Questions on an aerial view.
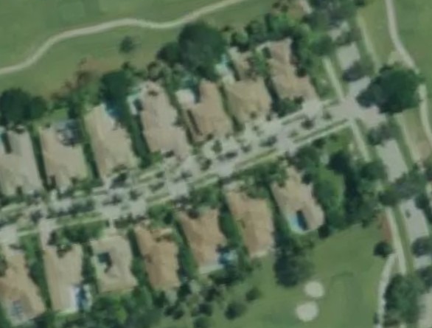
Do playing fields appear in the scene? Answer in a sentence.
No, I can't see a single playing field in this photo.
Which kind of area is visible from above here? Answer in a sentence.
This image shows a residential area.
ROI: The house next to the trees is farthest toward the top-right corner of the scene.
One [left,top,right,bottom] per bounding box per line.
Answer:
[264,41,316,109]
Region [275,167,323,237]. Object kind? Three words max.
house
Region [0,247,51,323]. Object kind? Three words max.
house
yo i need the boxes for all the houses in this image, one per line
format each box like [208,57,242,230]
[264,41,316,109]
[213,54,270,122]
[185,77,230,144]
[138,224,183,293]
[180,205,229,270]
[44,243,92,314]
[230,189,278,259]
[79,105,137,177]
[33,123,88,188]
[0,247,51,323]
[90,235,139,295]
[275,167,323,237]
[135,81,188,159]
[0,124,41,200]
